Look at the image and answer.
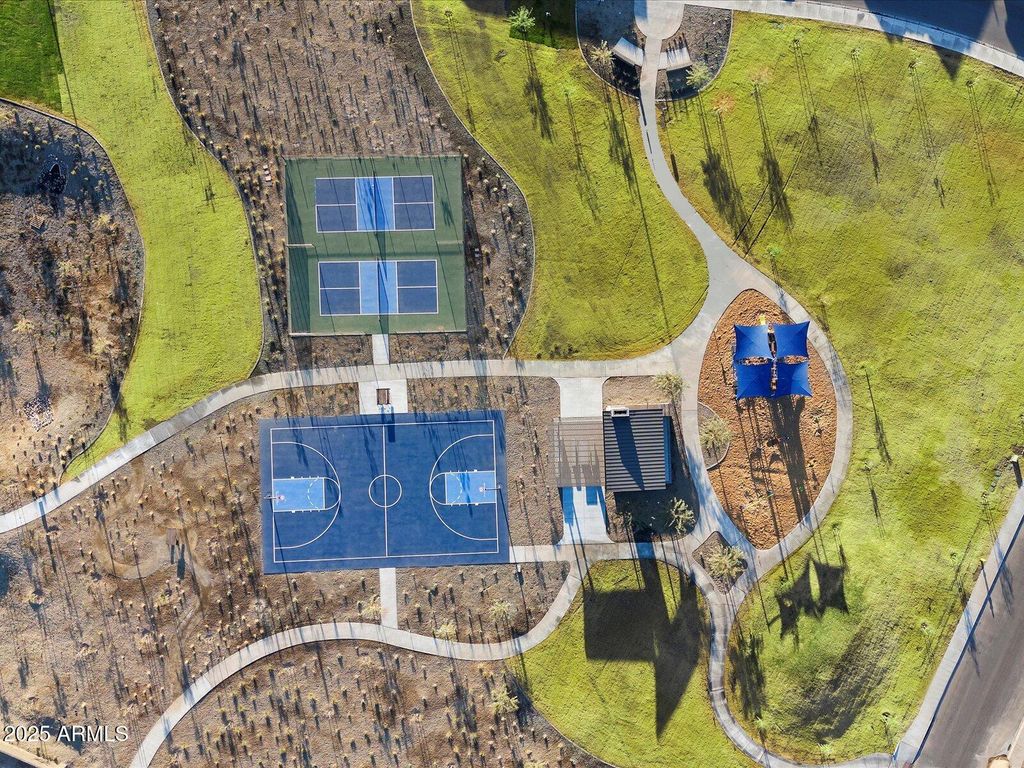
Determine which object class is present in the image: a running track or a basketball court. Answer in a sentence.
I can see a basketball court in this picture.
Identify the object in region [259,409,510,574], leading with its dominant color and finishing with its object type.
blue basketball court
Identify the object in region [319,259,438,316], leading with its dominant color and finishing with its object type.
blue sports court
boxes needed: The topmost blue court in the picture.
[315,175,435,233]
